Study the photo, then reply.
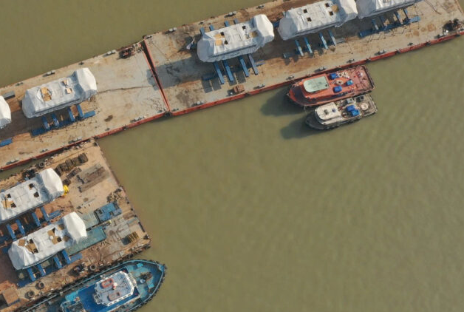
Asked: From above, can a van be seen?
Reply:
No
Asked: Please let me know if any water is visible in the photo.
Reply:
Yes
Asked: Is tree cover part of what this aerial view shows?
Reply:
No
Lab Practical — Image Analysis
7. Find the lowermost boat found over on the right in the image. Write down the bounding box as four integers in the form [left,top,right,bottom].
[304,95,377,131]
